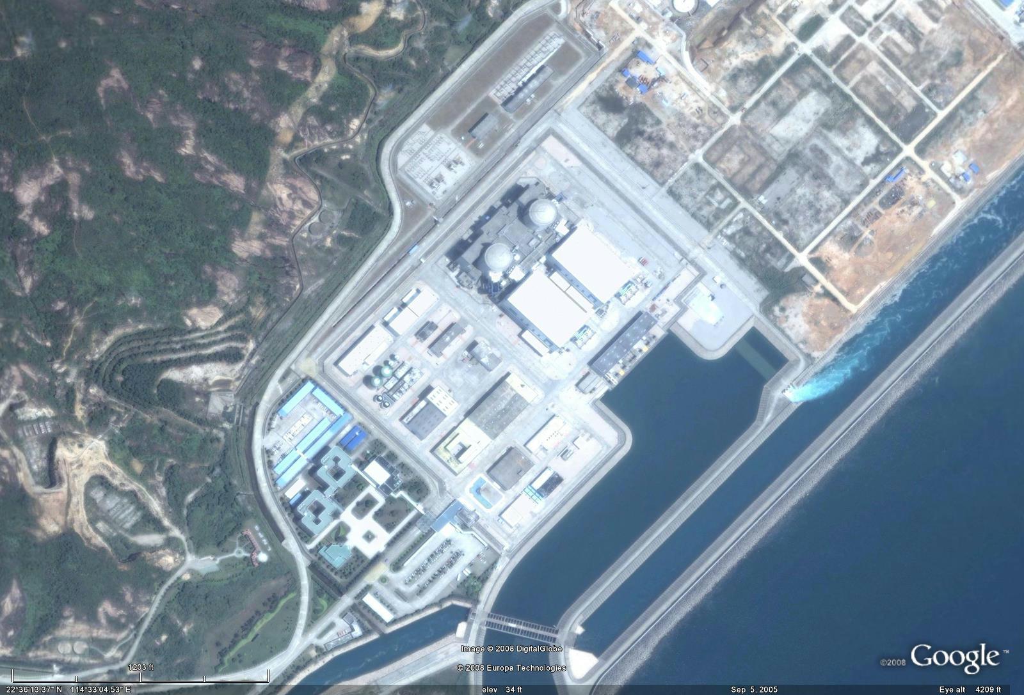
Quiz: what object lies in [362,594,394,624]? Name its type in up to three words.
shed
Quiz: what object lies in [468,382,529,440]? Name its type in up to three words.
building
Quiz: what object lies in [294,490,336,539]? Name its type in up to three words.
building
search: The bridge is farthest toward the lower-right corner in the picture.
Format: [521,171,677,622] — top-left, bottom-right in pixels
[485,613,559,645]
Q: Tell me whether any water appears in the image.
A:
Yes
